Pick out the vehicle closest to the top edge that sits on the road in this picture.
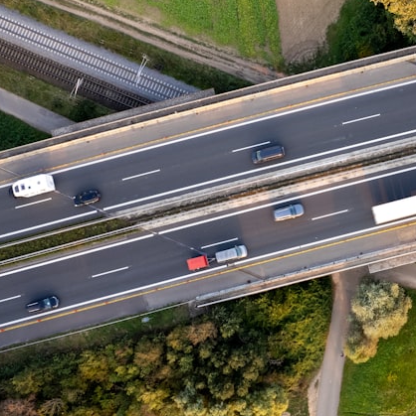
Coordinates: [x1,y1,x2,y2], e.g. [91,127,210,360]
[253,145,286,163]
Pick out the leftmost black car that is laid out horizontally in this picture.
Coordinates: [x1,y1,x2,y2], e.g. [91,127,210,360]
[26,296,60,314]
